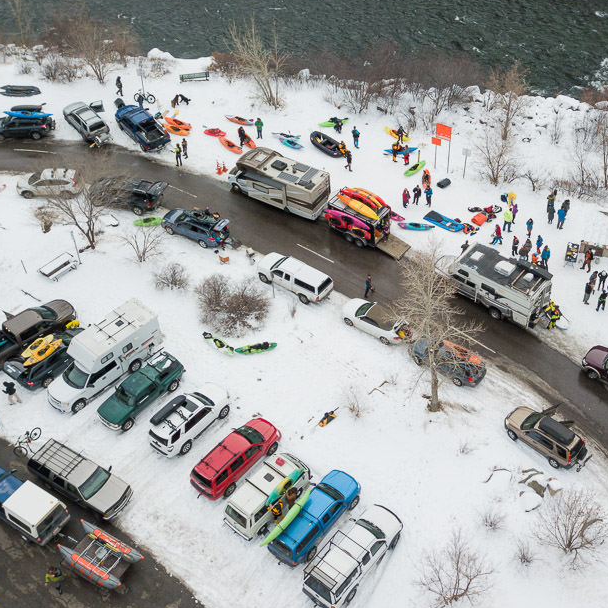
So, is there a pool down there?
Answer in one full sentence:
No, I can't see a single pool in this photo.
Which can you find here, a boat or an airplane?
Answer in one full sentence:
Looking from above, you can make out a boat.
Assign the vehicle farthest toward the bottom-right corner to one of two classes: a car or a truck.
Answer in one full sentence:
In the photo, the vehicle farthest toward the bottom-right corner shows up as a car.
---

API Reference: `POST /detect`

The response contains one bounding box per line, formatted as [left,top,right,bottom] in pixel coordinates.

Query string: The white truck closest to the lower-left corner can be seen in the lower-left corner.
[0,465,73,553]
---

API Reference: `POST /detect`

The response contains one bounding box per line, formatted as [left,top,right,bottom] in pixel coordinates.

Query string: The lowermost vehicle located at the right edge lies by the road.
[499,403,602,477]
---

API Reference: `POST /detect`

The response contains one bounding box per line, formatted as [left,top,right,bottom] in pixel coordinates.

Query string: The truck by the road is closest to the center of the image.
[254,252,336,308]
